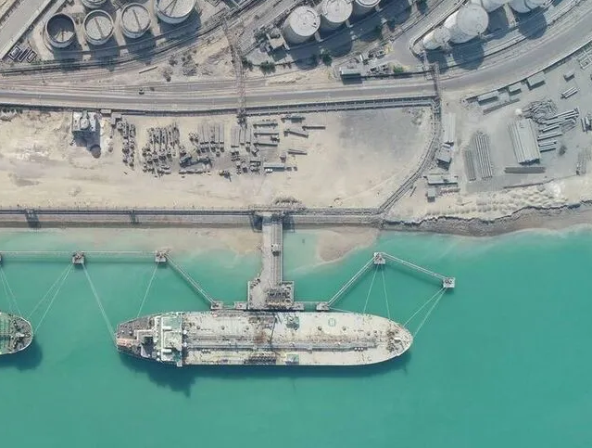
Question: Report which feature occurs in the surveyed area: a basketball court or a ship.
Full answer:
There is a ship in the scene.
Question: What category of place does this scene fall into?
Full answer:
This looks like an industrial area.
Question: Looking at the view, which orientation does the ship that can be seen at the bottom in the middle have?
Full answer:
I'd say the ship that can be seen at the bottom in the middle is aligned horizontally in the picture.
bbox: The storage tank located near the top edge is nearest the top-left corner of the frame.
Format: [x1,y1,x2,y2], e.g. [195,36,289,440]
[45,12,76,51]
